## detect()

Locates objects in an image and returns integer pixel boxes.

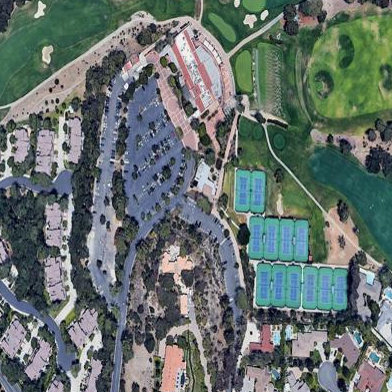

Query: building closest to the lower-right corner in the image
[358,361,387,392]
